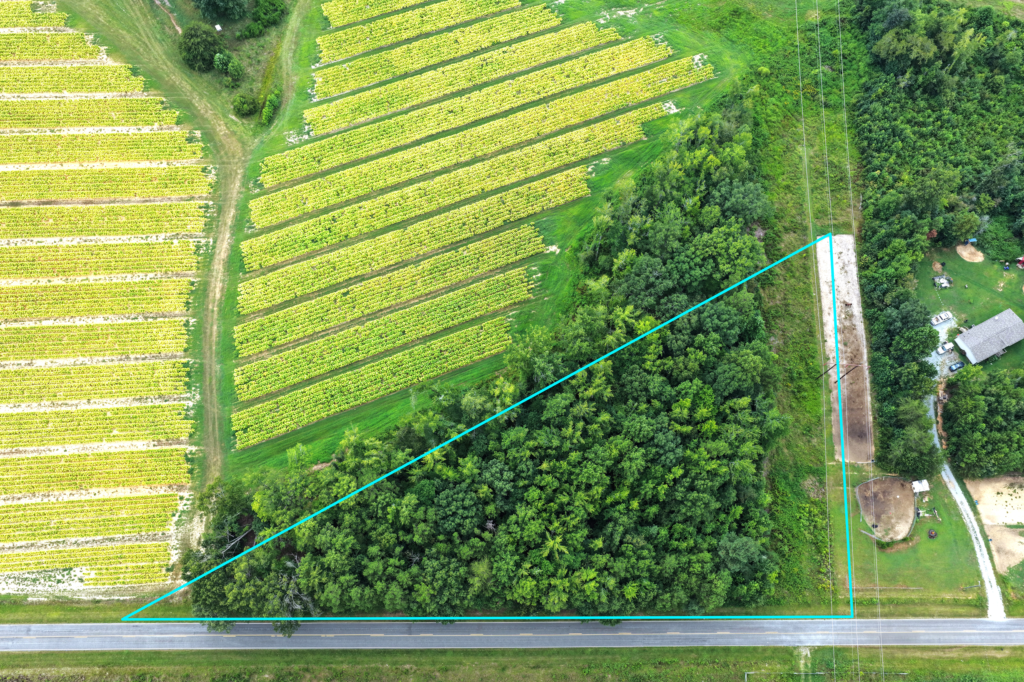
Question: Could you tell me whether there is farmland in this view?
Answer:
Yes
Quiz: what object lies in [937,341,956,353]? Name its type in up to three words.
vehicle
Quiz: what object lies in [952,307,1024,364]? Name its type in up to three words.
house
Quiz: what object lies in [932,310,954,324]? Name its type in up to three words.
vehicle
